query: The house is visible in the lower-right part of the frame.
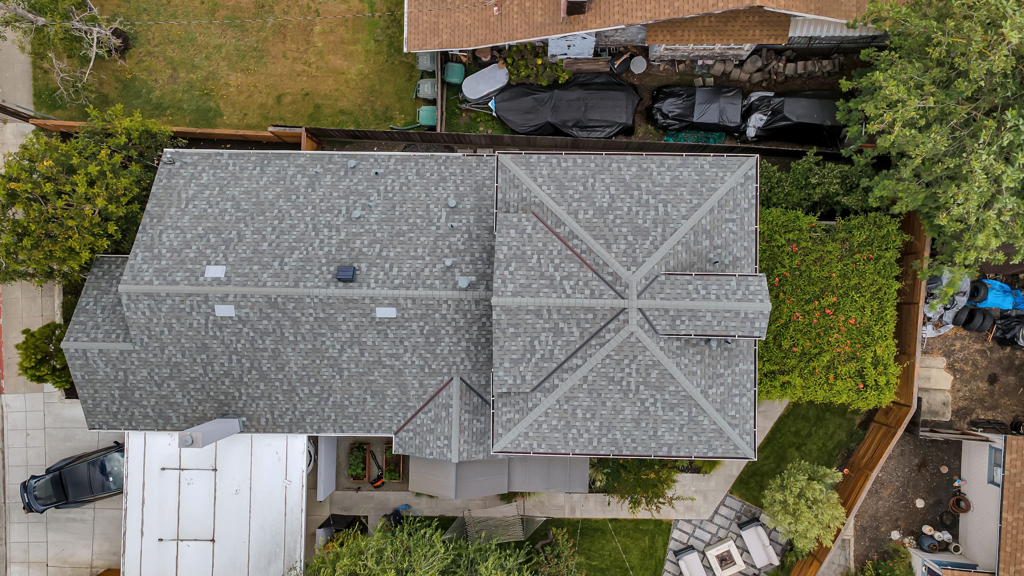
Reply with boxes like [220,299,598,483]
[909,435,1024,576]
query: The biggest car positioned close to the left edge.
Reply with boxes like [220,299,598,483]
[17,438,125,515]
